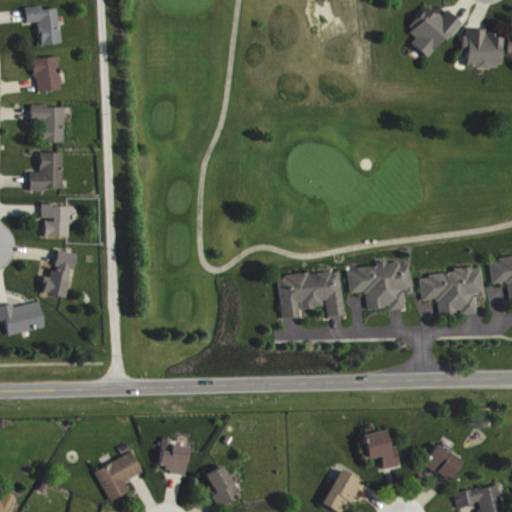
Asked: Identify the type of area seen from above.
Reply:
golf course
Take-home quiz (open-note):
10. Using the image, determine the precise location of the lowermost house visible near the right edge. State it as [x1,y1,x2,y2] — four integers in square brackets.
[456,484,506,512]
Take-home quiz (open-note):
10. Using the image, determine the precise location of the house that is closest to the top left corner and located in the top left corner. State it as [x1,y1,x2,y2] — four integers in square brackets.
[24,4,62,46]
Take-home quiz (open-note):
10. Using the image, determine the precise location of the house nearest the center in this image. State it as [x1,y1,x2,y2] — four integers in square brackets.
[278,271,346,319]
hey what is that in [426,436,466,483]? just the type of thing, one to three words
house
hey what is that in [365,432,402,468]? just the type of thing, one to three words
house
